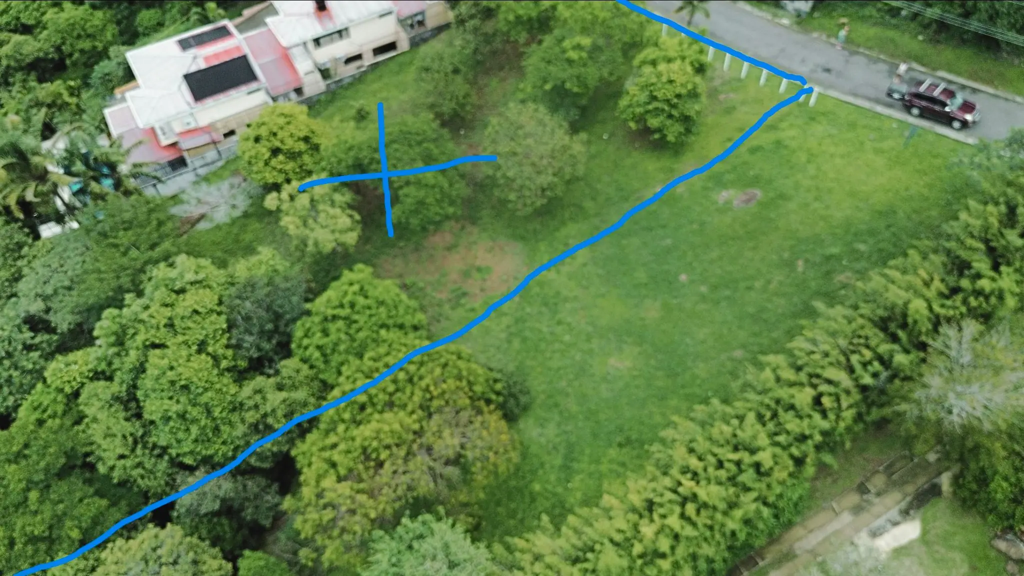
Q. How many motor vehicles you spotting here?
1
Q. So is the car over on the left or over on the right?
right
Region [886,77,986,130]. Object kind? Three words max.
car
